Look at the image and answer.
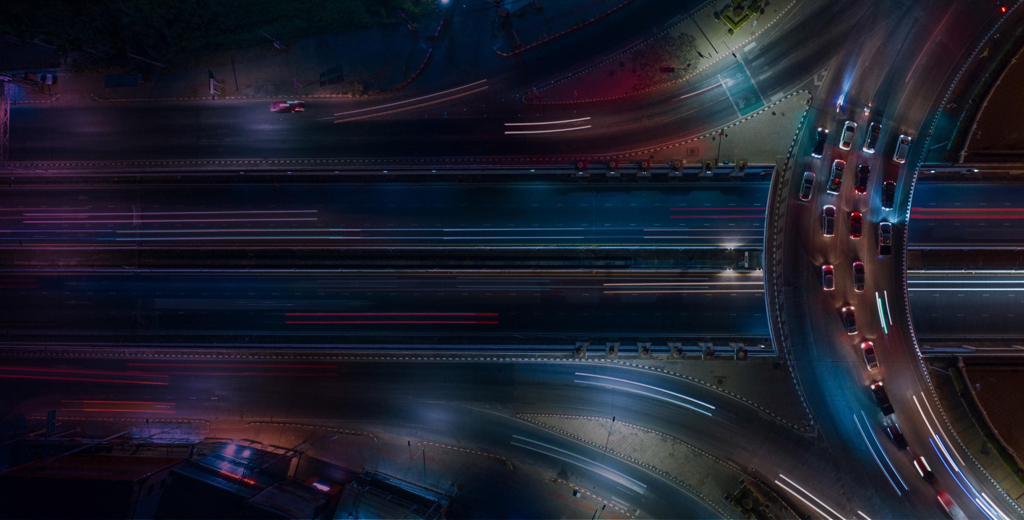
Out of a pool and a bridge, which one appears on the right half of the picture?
bridge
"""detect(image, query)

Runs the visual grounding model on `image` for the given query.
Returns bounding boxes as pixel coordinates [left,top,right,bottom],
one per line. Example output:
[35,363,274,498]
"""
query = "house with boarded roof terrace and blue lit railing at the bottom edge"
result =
[337,464,454,520]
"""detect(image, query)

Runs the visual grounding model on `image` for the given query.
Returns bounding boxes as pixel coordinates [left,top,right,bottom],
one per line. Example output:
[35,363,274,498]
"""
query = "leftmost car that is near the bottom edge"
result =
[621,472,650,495]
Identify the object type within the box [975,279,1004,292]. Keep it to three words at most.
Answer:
vehicle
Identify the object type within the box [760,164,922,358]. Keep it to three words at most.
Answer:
bridge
